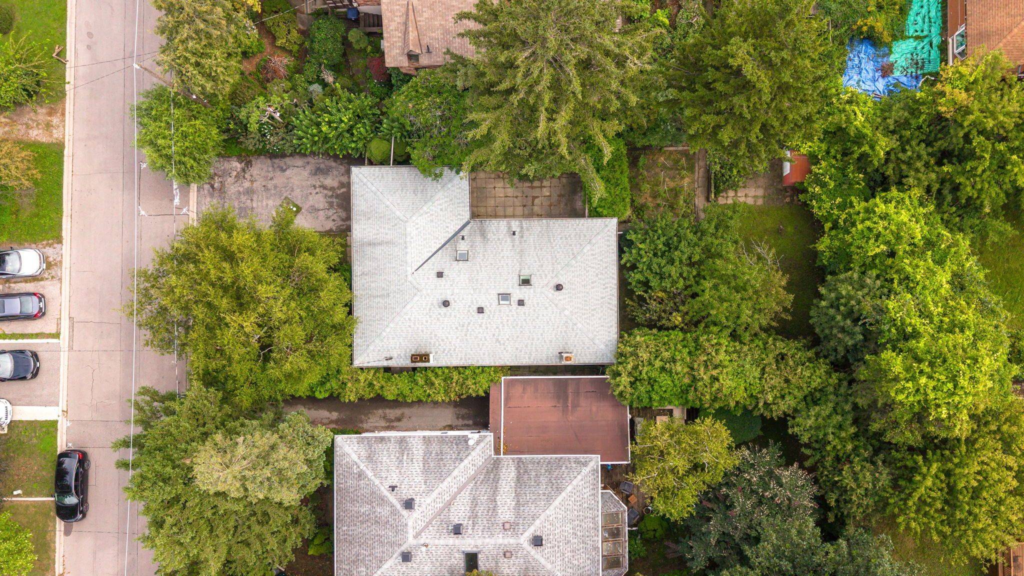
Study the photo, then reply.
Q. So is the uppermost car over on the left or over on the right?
left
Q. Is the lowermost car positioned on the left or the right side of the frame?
left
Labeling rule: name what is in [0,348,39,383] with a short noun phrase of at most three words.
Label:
car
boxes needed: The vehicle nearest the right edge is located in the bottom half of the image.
[50,448,90,522]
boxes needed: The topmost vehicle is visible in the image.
[0,246,46,280]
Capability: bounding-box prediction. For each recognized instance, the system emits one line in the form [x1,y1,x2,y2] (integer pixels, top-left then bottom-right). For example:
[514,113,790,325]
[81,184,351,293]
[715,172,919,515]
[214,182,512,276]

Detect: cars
[0,348,39,383]
[0,246,46,280]
[0,398,12,431]
[50,448,90,522]
[0,291,46,321]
